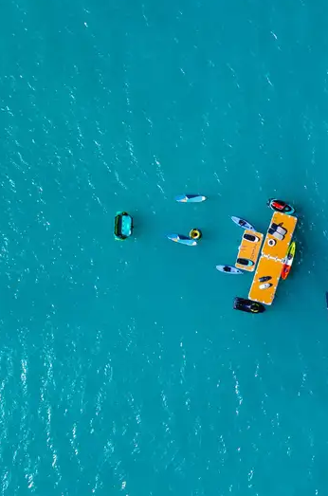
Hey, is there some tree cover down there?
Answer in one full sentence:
No, no tree cover is visible.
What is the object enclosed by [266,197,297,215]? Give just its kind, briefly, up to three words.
boat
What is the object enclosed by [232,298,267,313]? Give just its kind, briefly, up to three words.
boat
